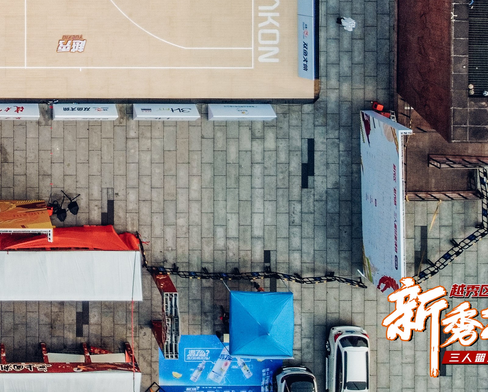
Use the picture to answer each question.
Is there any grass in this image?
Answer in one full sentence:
No, no grass is visible.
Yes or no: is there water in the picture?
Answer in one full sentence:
No, water can't be seen anywhere here.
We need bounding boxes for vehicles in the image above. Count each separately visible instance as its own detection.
[326,325,376,392]
[274,362,317,392]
